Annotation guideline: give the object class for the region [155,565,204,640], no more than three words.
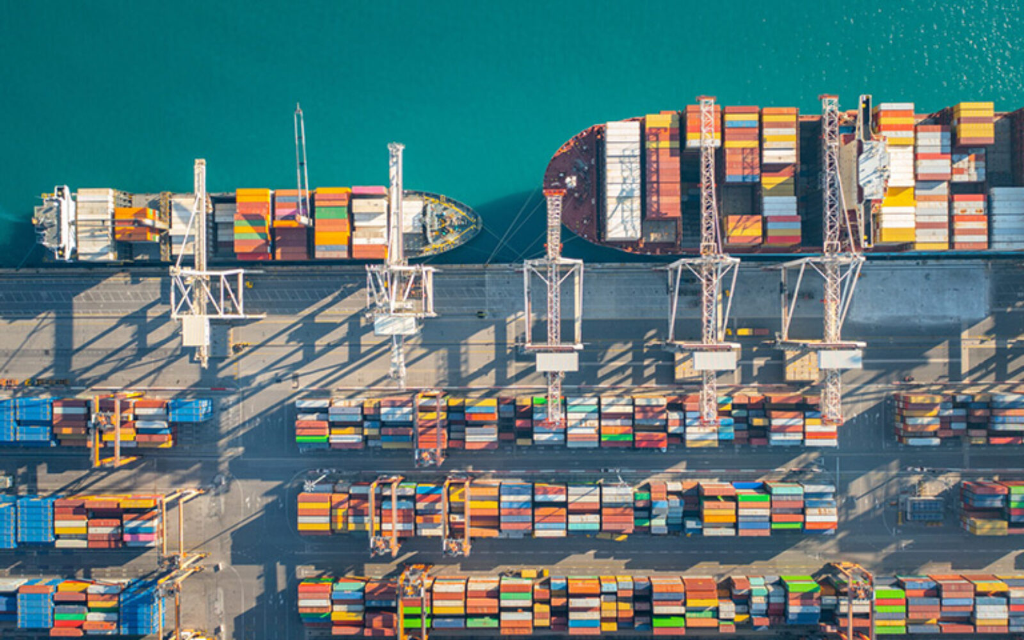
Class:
container crane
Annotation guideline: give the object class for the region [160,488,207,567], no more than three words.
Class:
container crane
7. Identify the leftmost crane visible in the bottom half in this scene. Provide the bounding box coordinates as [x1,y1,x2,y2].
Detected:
[91,390,146,466]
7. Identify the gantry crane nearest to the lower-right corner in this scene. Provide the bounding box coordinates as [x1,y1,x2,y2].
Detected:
[828,559,875,640]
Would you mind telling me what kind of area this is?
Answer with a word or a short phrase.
port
